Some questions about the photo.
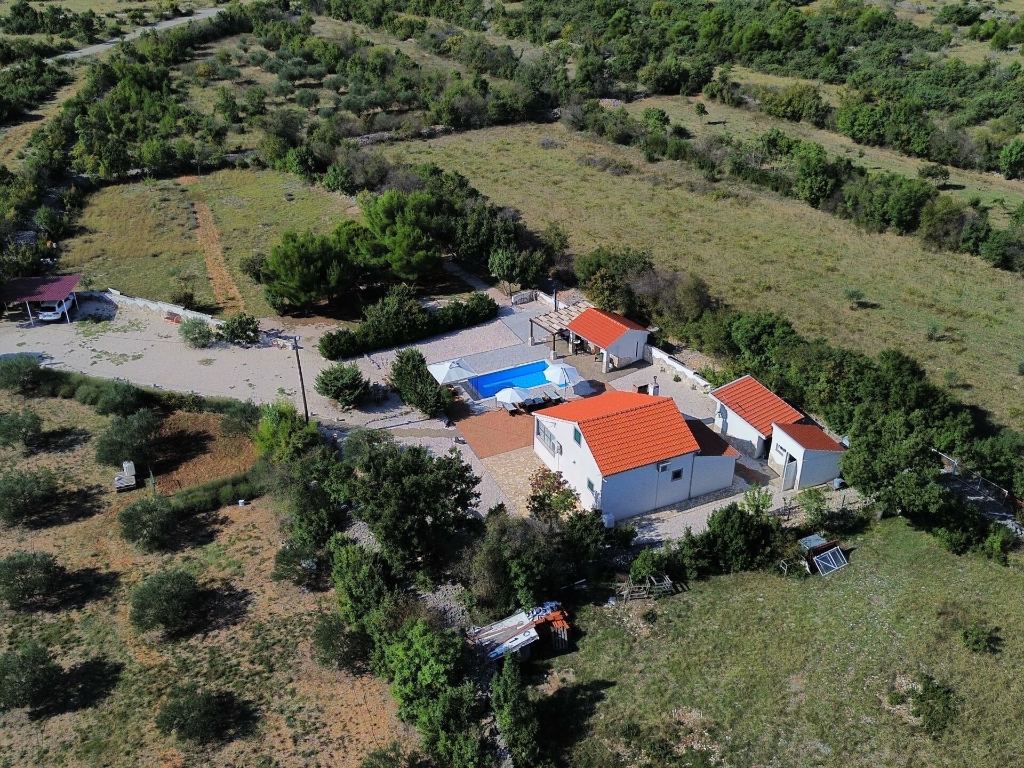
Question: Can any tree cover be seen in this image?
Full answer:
Yes, some tree cover is visible.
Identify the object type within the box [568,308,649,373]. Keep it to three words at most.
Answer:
building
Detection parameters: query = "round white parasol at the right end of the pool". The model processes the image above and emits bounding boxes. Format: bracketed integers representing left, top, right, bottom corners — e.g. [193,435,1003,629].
[542,365,582,405]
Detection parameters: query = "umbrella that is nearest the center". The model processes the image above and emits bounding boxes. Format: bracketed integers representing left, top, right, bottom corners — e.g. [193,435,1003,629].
[488,385,532,416]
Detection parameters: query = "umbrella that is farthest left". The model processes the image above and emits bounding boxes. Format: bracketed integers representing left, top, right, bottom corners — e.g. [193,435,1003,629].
[428,358,483,405]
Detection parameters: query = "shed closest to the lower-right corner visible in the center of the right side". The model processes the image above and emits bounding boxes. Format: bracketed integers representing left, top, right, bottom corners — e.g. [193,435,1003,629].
[767,423,848,493]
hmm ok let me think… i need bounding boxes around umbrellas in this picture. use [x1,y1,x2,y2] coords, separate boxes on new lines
[428,358,483,405]
[488,385,532,416]
[542,365,582,405]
